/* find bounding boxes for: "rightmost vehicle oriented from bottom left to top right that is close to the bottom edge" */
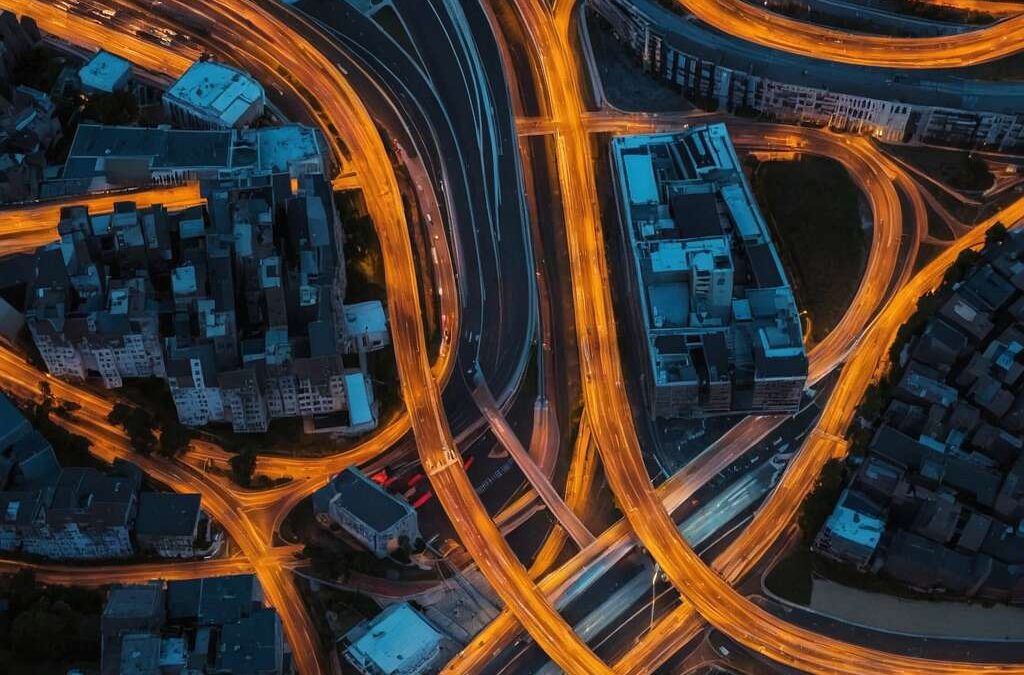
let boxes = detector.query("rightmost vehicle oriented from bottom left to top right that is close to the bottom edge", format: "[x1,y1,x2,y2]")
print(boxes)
[717,640,732,659]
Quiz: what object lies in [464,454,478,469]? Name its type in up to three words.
vehicle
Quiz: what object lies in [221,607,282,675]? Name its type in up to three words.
building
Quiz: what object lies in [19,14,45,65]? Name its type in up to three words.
house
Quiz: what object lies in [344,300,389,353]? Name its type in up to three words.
house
